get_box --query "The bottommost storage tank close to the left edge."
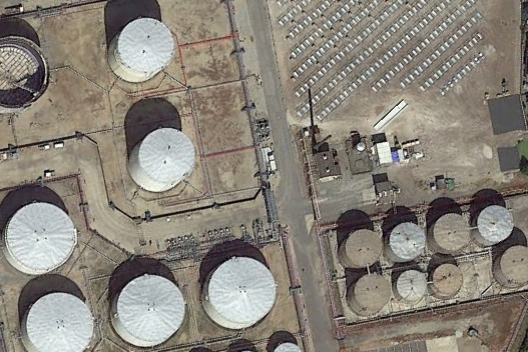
[19,292,95,352]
